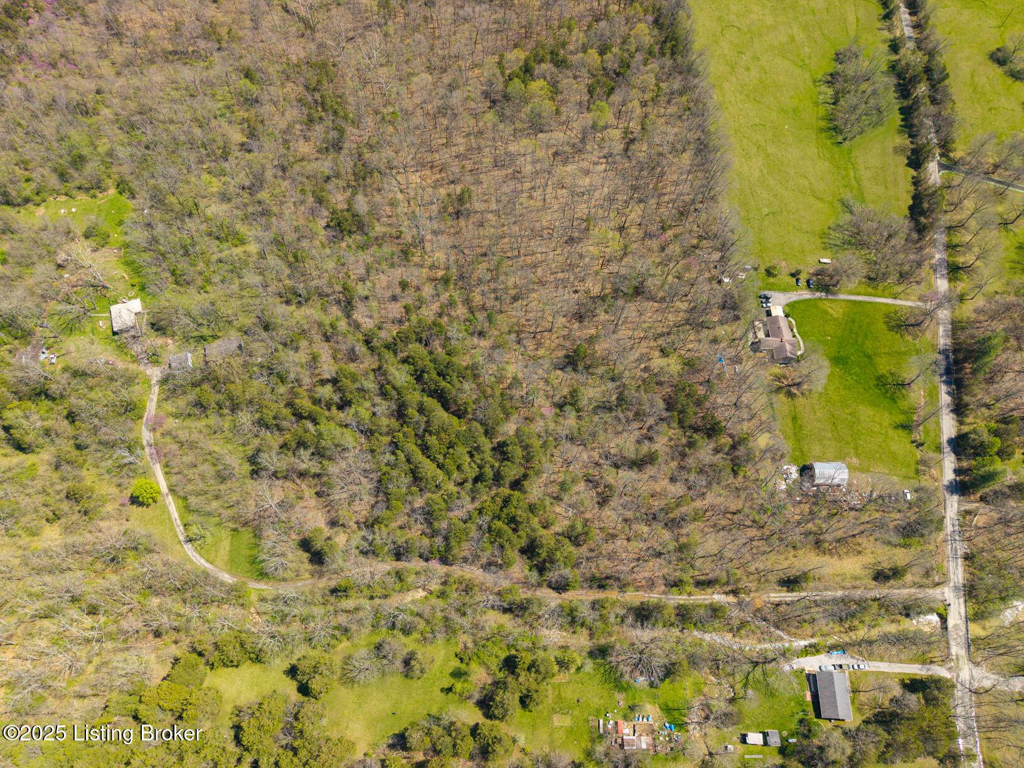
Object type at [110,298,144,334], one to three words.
house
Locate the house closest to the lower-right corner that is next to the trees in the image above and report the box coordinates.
[814,671,853,721]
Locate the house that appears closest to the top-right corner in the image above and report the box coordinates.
[760,305,799,363]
